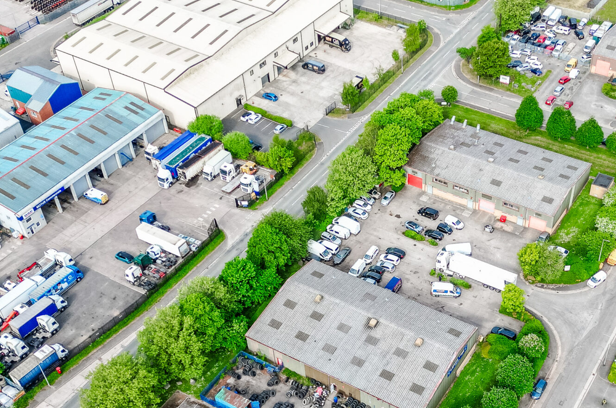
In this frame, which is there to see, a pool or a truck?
truck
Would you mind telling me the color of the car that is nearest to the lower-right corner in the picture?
blue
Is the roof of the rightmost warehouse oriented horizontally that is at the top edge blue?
No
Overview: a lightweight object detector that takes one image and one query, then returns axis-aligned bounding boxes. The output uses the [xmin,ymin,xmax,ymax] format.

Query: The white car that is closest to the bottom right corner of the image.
[585,274,608,290]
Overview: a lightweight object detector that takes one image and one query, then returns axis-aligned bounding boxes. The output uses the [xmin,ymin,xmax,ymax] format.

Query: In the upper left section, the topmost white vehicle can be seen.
[69,0,125,31]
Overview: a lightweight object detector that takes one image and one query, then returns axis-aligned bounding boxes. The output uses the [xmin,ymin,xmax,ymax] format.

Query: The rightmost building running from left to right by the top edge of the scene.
[59,0,365,129]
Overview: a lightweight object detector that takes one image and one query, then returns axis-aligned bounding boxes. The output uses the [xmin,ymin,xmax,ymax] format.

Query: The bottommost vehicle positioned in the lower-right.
[530,378,550,401]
